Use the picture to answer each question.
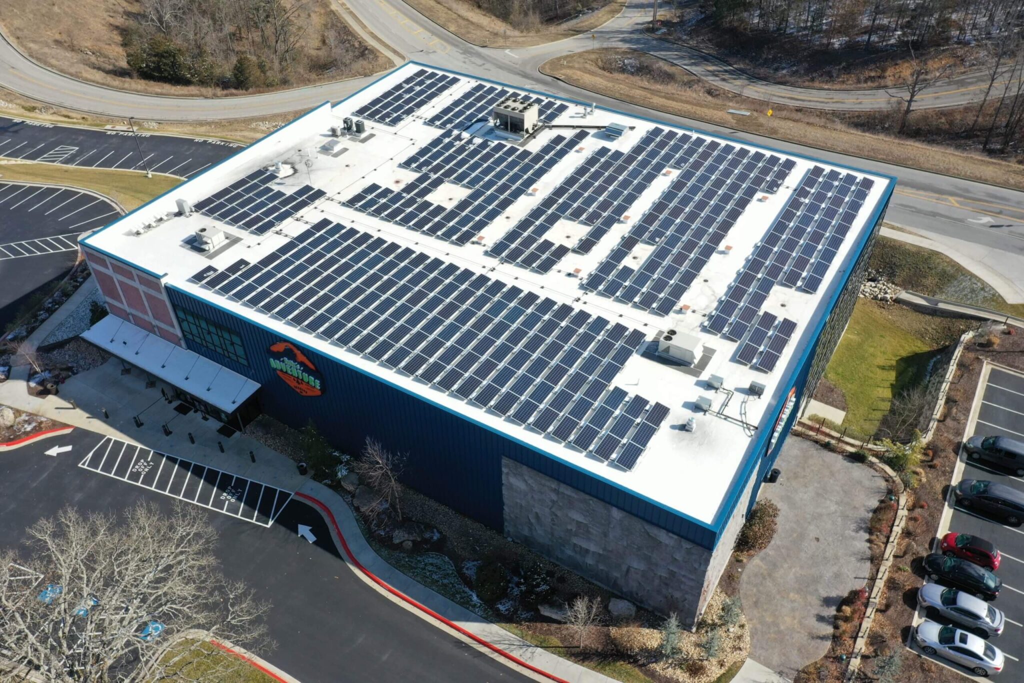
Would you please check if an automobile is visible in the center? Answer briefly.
No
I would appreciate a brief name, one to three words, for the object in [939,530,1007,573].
car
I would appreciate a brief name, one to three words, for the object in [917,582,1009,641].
car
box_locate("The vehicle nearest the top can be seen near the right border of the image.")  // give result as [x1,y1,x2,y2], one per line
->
[965,433,1024,476]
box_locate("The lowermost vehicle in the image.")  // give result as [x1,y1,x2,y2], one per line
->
[913,618,1008,681]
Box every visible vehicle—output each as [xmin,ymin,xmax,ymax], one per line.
[921,551,1008,605]
[965,433,1024,476]
[955,477,1024,525]
[939,530,1007,573]
[913,618,1008,681]
[917,582,1009,641]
